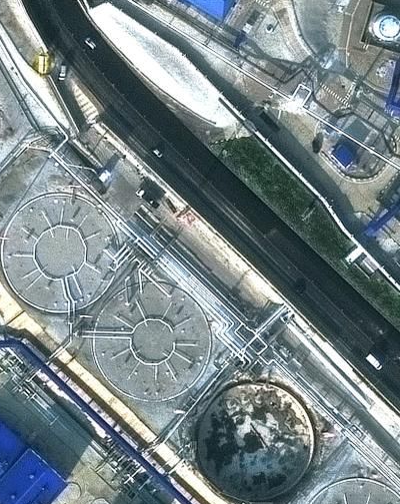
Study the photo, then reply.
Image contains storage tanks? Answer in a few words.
Yes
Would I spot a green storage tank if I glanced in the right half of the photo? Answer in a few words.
No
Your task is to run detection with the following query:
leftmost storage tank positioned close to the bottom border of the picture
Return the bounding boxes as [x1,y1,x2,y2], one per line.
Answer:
[197,382,315,499]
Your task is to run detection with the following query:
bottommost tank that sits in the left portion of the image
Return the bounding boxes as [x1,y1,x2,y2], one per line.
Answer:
[92,283,212,401]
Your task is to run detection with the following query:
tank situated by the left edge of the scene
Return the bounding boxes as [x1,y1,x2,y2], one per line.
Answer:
[1,193,120,314]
